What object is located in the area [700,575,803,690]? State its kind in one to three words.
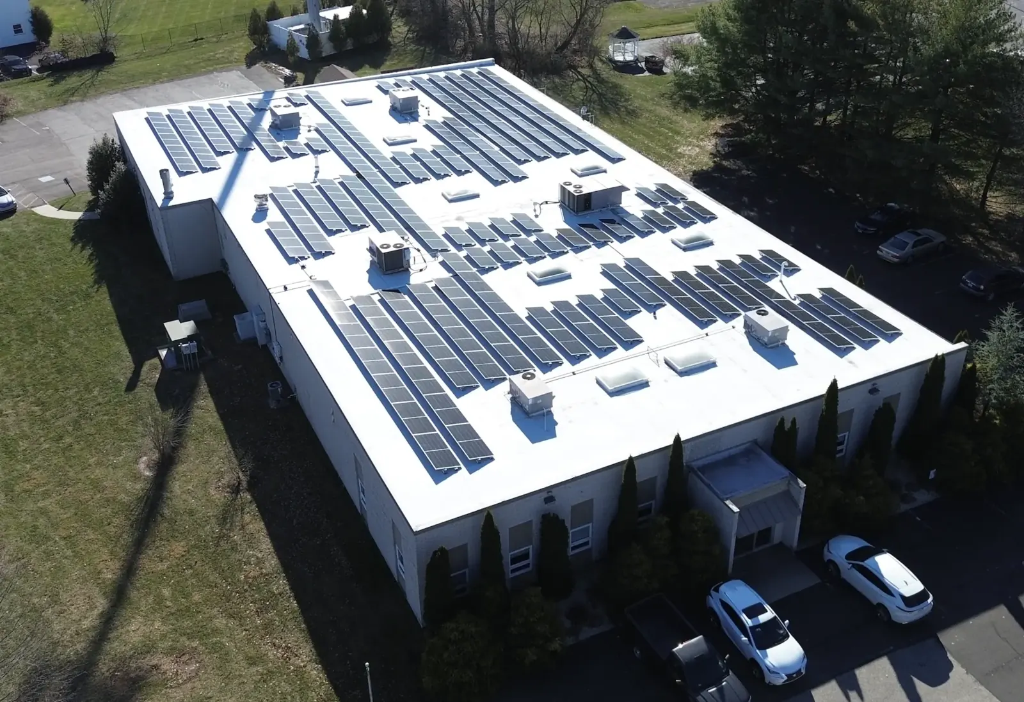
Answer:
car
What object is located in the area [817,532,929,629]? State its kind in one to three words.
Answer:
car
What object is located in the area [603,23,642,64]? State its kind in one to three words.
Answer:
gazebo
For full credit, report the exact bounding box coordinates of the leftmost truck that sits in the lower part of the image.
[619,582,744,702]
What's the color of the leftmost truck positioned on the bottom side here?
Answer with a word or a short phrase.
black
